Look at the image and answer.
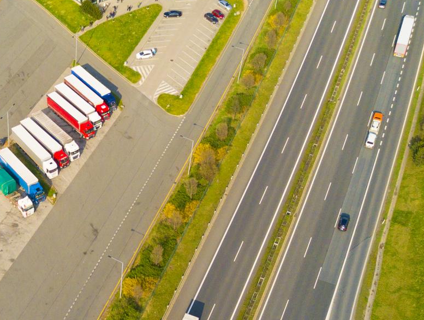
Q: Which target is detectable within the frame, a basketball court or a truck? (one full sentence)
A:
The one in the frame is a truck.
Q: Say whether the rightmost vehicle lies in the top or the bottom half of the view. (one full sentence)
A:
It is in the top half that the rightmost vehicle appears.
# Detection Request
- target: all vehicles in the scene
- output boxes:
[0,163,35,215]
[20,118,70,172]
[136,48,156,59]
[64,76,112,124]
[338,213,350,230]
[211,9,225,19]
[217,0,232,11]
[0,148,46,205]
[365,132,377,146]
[32,111,81,162]
[54,83,103,131]
[379,0,387,7]
[71,66,118,113]
[205,13,218,23]
[394,15,414,55]
[182,314,198,320]
[164,10,182,17]
[47,92,96,142]
[12,126,60,180]
[373,115,384,128]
